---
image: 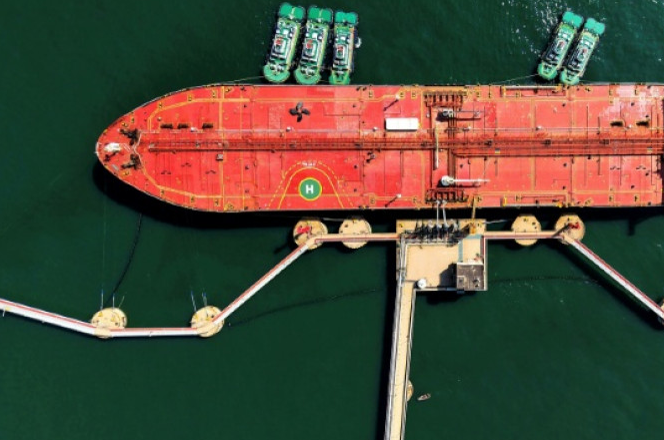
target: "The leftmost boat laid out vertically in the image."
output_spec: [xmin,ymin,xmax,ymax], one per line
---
[266,1,307,84]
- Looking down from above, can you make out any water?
Yes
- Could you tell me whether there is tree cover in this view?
No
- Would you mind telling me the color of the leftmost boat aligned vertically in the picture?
green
